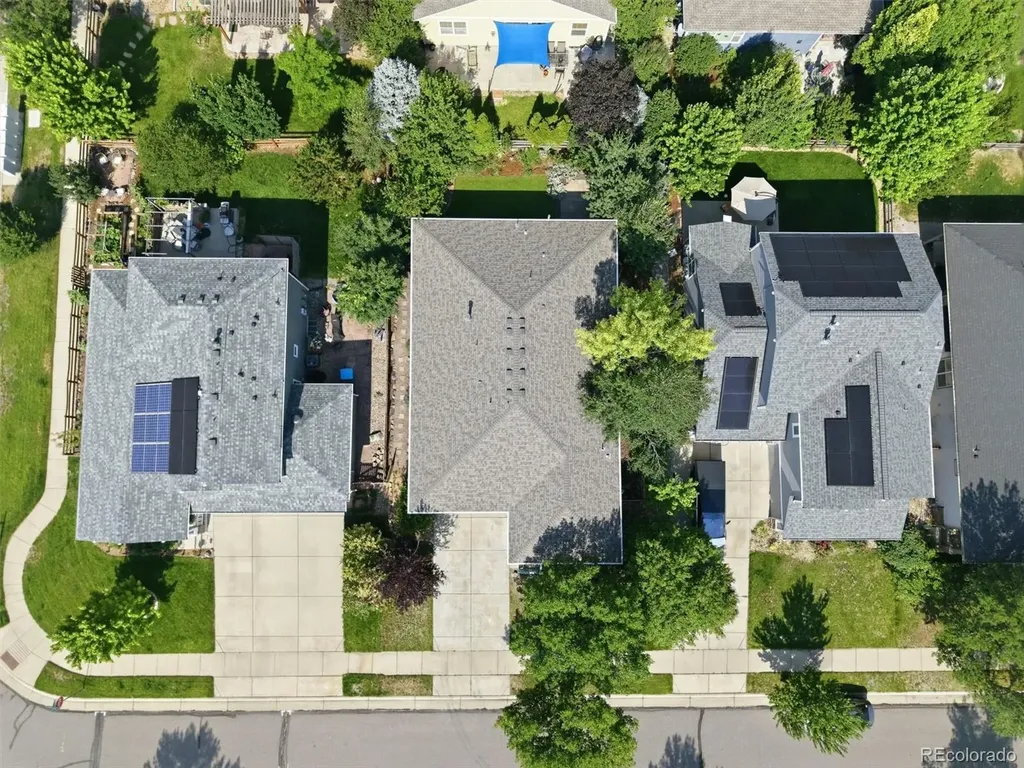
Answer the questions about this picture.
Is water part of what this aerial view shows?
No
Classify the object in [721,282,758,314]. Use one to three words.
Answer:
solar array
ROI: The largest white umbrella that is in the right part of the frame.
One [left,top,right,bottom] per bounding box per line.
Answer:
[731,177,779,221]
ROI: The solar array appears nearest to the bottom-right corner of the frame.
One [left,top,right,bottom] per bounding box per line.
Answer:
[825,386,873,485]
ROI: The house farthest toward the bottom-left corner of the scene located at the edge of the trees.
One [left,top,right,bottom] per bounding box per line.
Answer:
[74,256,358,544]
